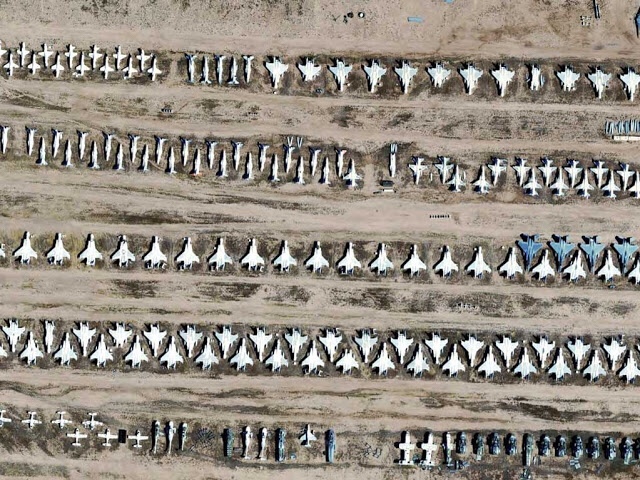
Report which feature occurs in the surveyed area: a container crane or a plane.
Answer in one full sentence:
Looking from above, you can make out a plane.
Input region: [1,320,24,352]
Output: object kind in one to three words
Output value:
airplane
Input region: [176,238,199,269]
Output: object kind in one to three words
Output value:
airplane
